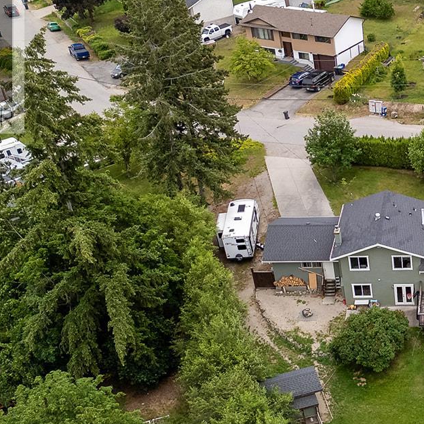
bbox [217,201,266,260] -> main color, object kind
white trailer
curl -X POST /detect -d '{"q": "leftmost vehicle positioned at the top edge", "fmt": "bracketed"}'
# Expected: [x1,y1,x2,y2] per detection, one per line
[1,3,17,16]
